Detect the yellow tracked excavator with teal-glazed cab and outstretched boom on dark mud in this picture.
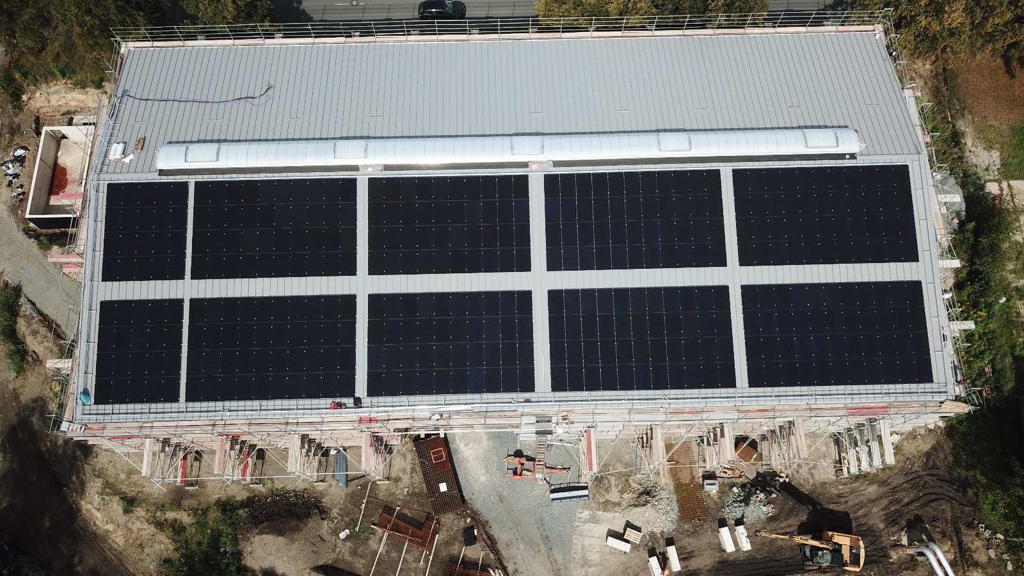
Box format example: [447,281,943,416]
[749,525,866,572]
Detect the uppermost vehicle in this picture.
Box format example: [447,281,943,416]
[418,0,466,22]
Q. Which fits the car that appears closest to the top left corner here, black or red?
black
